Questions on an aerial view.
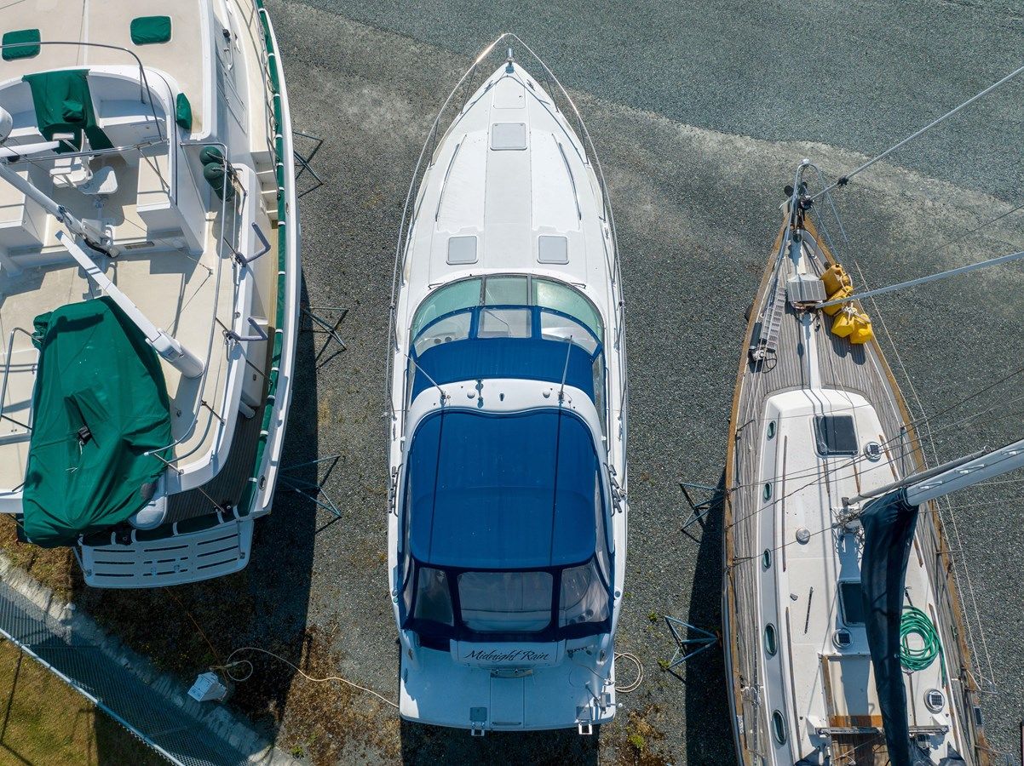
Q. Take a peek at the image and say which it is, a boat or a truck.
boat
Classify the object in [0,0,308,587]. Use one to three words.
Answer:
boat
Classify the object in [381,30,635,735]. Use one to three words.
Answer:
boat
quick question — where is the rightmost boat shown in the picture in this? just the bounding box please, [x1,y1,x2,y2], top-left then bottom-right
[713,67,1024,766]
